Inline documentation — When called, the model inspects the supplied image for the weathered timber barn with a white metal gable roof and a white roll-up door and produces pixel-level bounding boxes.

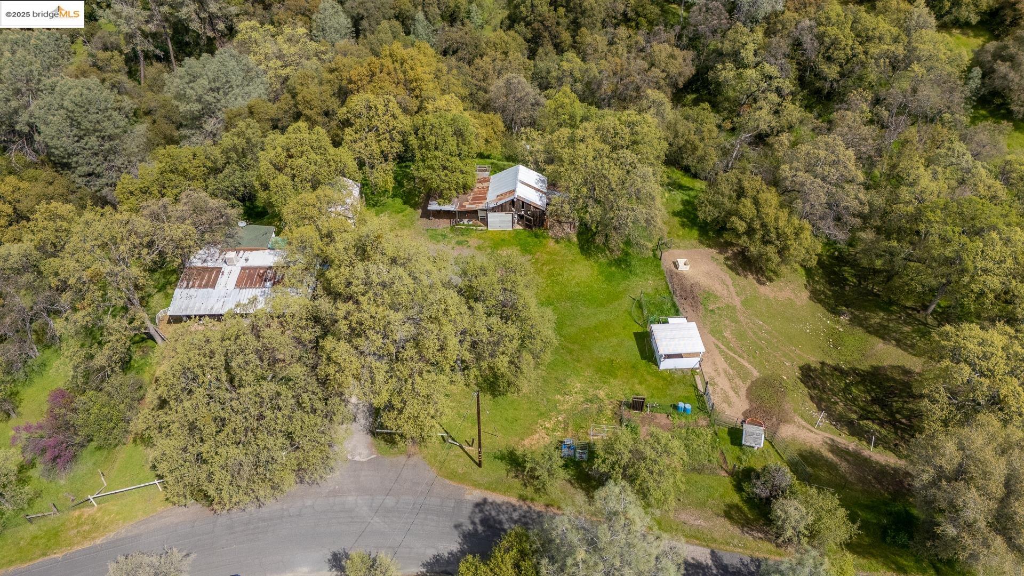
[429,162,564,234]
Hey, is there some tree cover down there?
Yes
